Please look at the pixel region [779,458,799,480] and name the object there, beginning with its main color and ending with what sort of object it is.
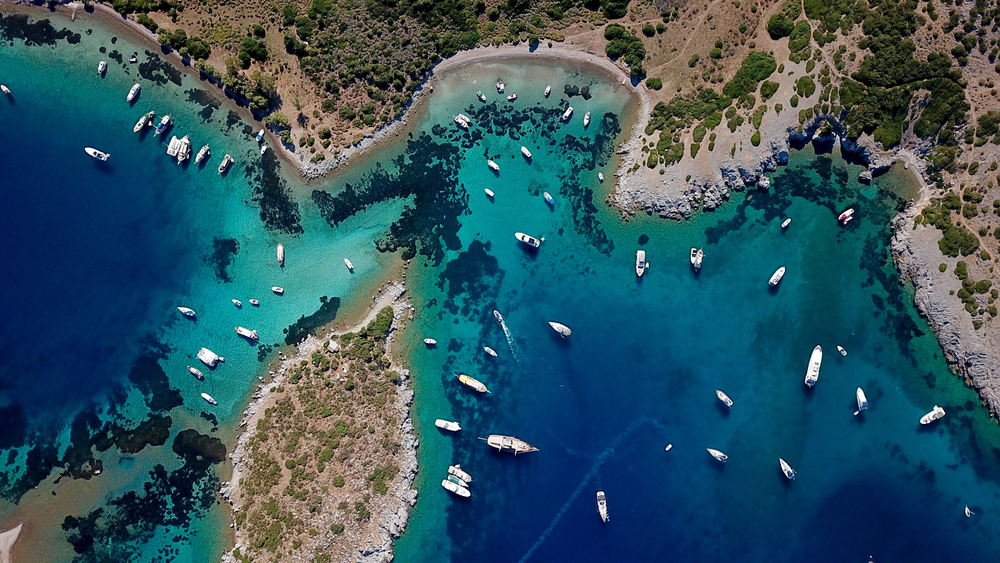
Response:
white boat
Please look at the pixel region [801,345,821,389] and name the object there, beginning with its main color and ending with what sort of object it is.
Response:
white boat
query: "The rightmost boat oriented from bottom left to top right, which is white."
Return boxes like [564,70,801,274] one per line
[918,404,944,423]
